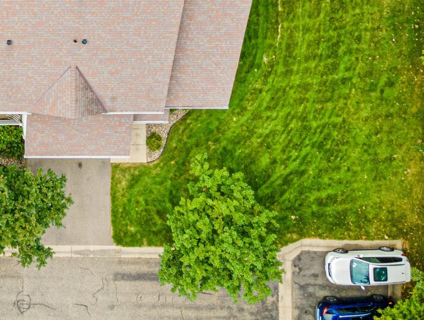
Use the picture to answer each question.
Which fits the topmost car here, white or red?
white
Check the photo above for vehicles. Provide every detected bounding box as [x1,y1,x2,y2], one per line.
[314,290,407,320]
[321,243,415,290]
